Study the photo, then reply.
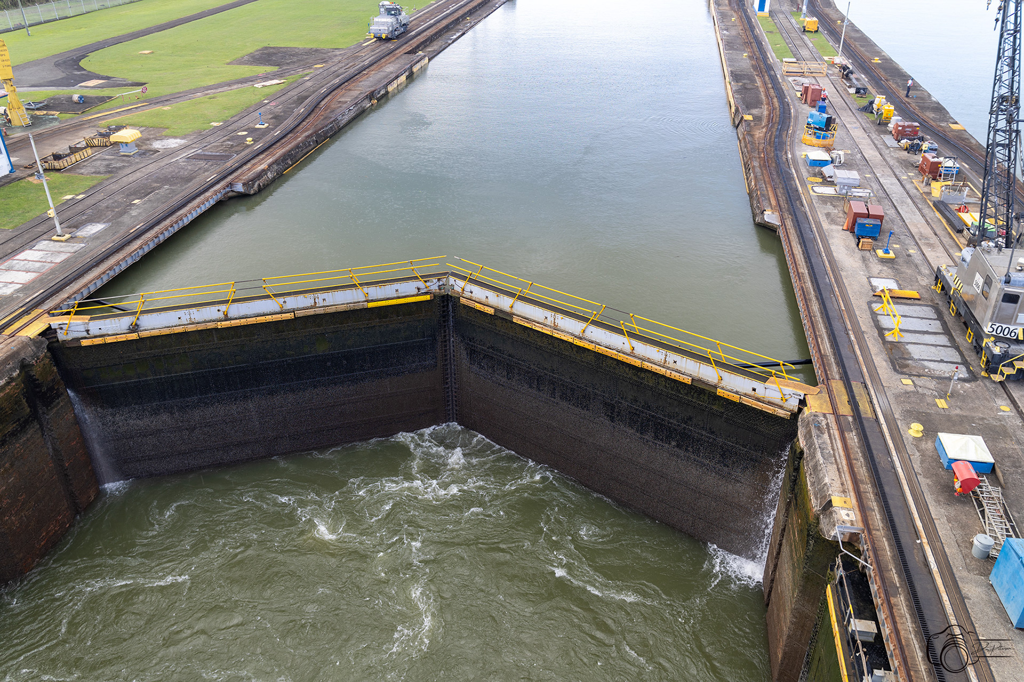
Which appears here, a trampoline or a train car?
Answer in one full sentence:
This aerial view contains a train car.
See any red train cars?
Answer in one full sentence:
No, no red train car is visible in the scene.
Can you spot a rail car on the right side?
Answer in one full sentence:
Yes, there is a rail car on the right side.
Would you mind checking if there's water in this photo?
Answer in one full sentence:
Yes, water shows up in the scene.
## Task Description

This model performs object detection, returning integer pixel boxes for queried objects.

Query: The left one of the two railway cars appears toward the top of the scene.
[368,0,412,37]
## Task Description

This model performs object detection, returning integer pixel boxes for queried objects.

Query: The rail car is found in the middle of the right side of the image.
[936,244,1024,387]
